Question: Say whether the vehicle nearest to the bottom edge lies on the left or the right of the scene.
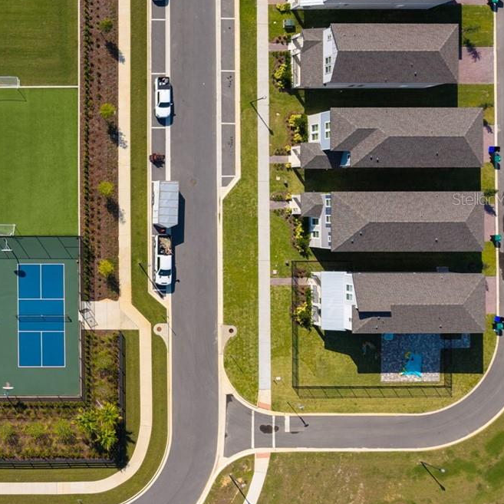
left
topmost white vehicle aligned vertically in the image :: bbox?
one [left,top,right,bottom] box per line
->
[153,77,174,120]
